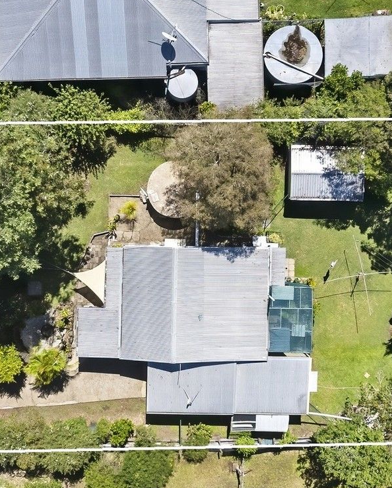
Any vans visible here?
No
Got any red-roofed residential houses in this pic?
No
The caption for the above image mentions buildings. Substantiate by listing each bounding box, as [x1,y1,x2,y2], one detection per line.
[324,14,392,80]
[0,0,264,109]
[288,145,365,203]
[75,237,318,434]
